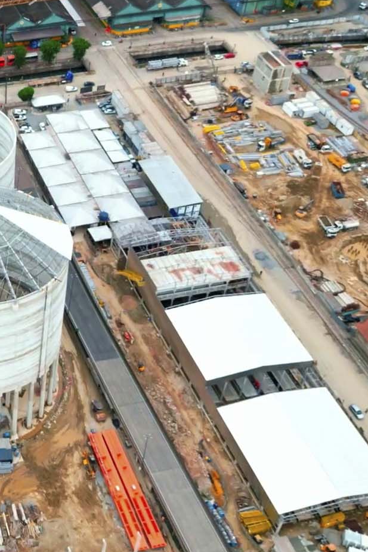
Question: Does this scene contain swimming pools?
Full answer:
No, no swimming pool can be seen from above.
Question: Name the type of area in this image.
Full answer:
The area seen from above is an industrial area.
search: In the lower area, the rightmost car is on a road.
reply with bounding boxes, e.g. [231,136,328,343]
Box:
[349,402,366,419]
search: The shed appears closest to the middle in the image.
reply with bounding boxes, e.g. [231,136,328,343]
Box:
[139,245,253,309]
